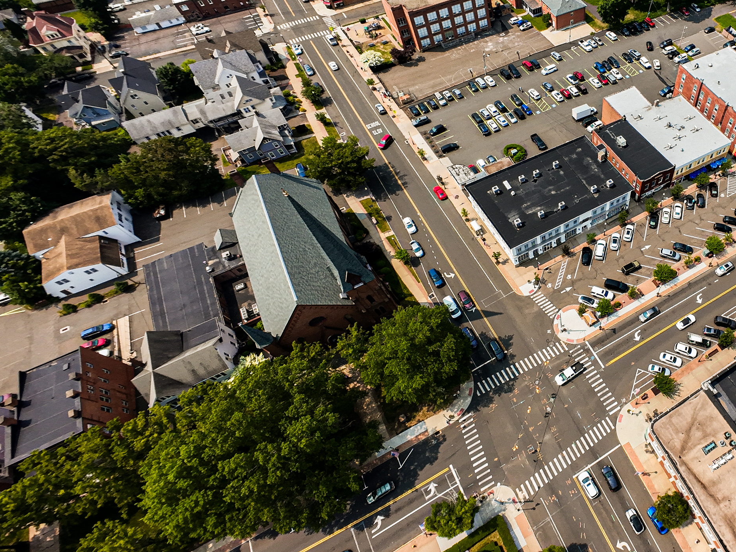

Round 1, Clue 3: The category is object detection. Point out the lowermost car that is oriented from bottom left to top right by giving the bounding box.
[364,479,396,507]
